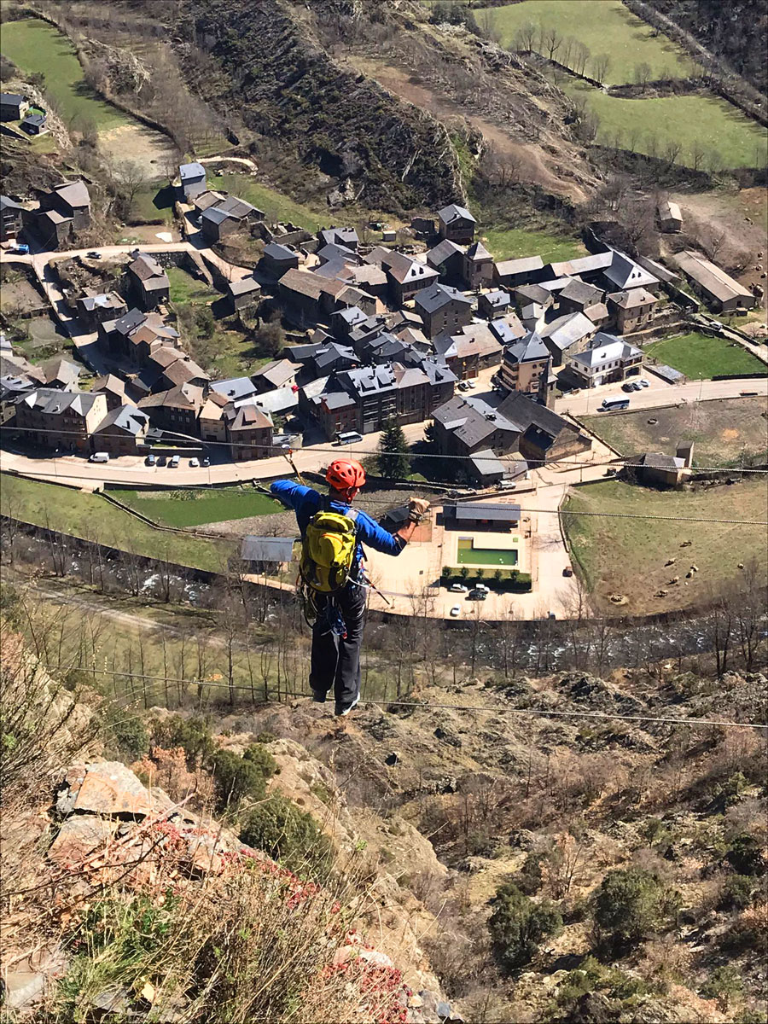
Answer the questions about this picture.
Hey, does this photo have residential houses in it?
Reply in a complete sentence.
Yes, I can see a residential house in this picture.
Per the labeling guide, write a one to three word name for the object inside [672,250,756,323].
barn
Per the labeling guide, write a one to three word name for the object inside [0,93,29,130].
house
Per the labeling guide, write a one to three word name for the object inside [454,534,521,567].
swimming pool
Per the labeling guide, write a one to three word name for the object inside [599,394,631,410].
vehicle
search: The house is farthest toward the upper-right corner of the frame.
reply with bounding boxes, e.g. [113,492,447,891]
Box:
[659,202,683,241]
